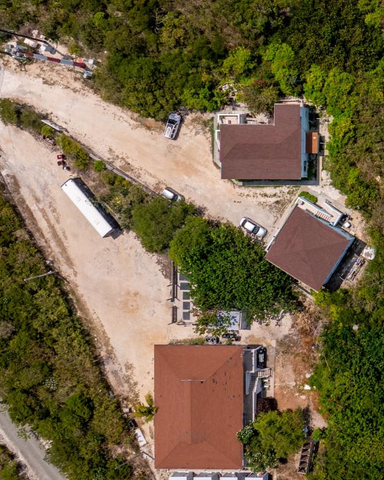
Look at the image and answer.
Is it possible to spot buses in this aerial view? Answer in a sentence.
Yes, a bus is visible in the scene.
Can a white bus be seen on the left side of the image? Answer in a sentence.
Yes, there is a white bus on the left side of the image.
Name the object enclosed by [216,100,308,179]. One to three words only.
house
